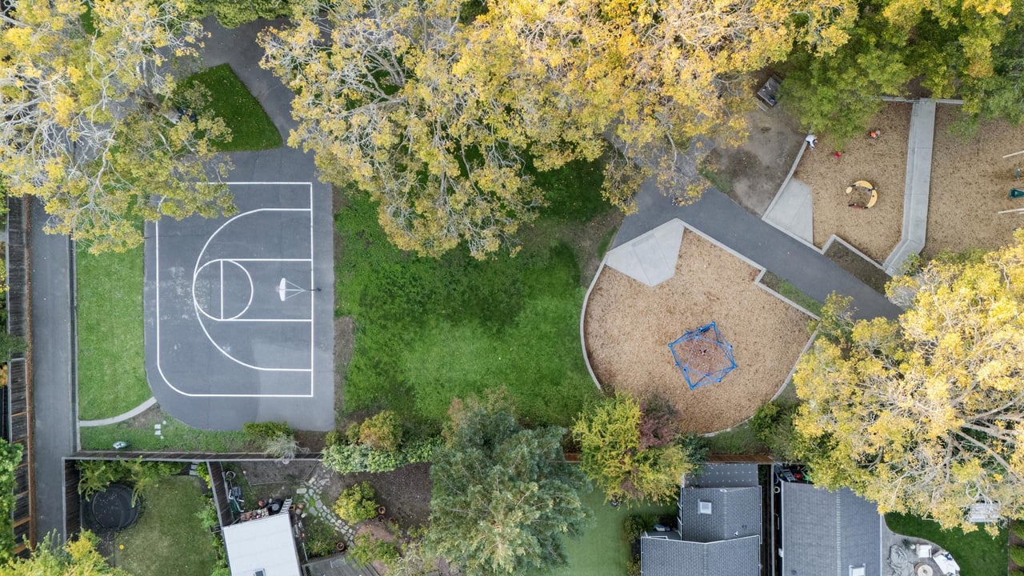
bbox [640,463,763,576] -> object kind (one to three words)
house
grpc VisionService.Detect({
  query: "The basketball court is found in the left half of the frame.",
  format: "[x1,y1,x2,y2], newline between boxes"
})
[145,149,334,431]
